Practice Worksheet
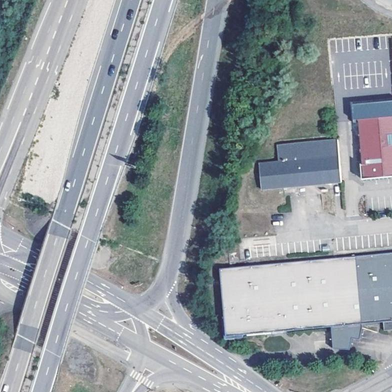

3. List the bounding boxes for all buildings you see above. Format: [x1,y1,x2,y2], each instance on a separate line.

[358,117,392,180]
[258,140,342,190]
[220,252,392,338]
